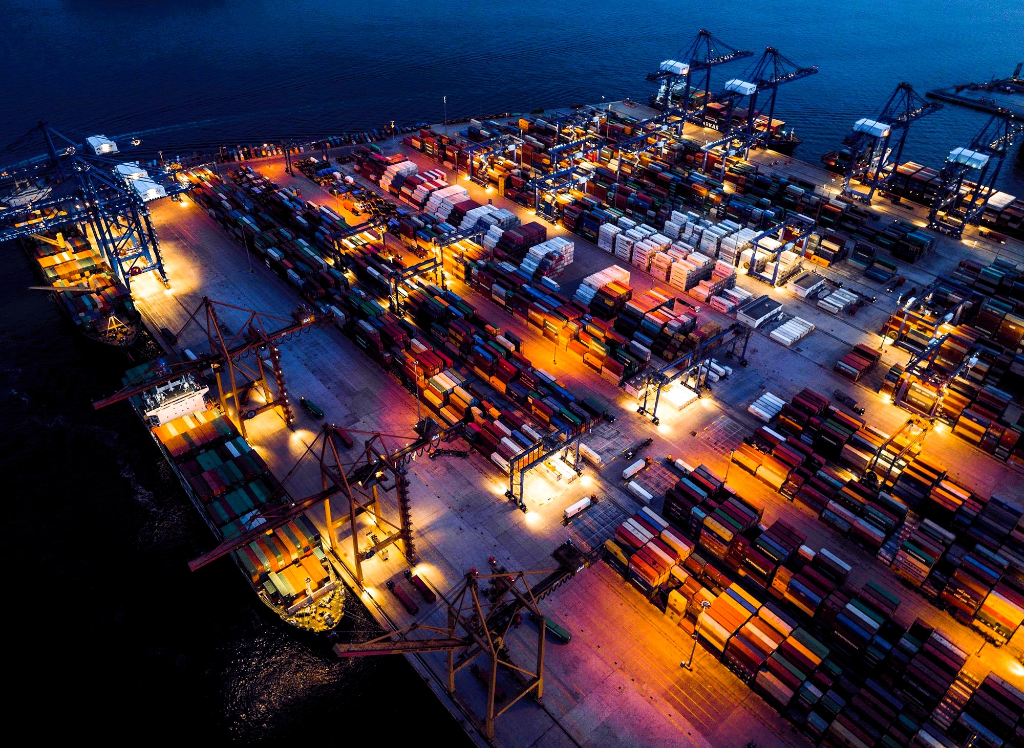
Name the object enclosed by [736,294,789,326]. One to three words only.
building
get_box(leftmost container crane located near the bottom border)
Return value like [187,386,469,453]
[326,525,624,748]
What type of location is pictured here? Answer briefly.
port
